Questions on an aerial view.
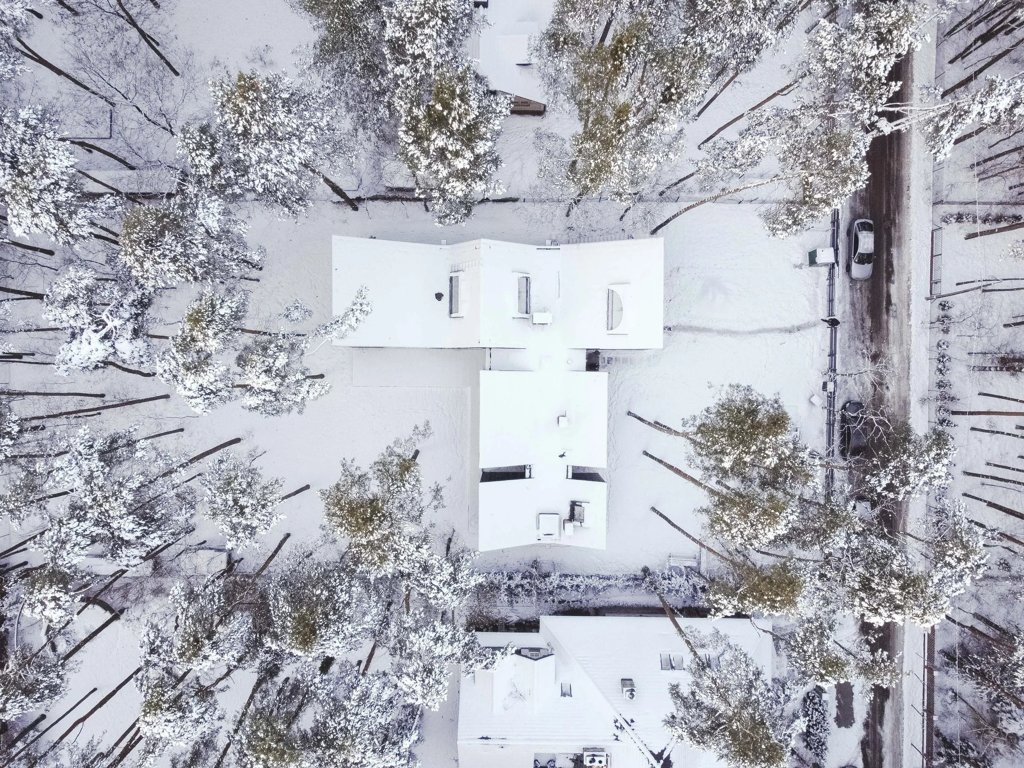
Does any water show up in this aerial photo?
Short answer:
No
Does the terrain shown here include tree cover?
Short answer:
Yes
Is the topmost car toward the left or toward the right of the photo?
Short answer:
right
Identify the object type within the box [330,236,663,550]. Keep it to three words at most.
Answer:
house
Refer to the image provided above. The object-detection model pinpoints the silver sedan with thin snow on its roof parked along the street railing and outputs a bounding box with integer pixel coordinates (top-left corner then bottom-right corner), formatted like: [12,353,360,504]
[845,220,878,283]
